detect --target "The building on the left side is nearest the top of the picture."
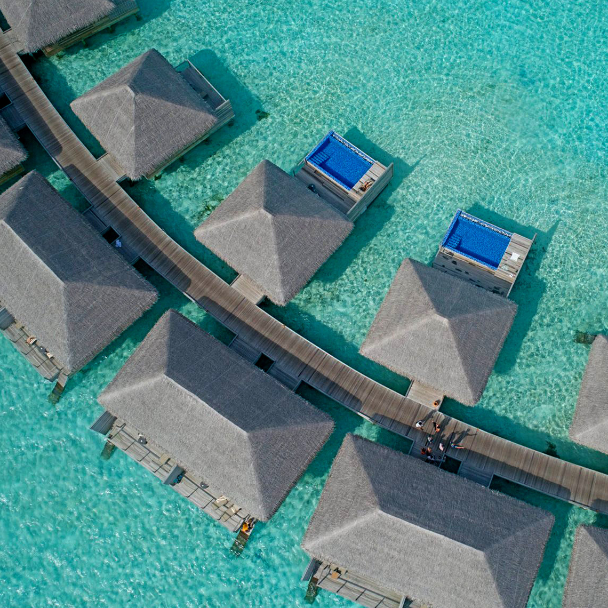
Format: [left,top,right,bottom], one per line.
[0,0,140,66]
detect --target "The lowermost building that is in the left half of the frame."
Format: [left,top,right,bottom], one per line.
[91,310,335,547]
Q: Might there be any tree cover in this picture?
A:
No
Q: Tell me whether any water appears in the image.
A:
Yes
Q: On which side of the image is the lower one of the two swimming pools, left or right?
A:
right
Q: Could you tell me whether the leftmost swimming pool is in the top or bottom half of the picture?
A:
top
